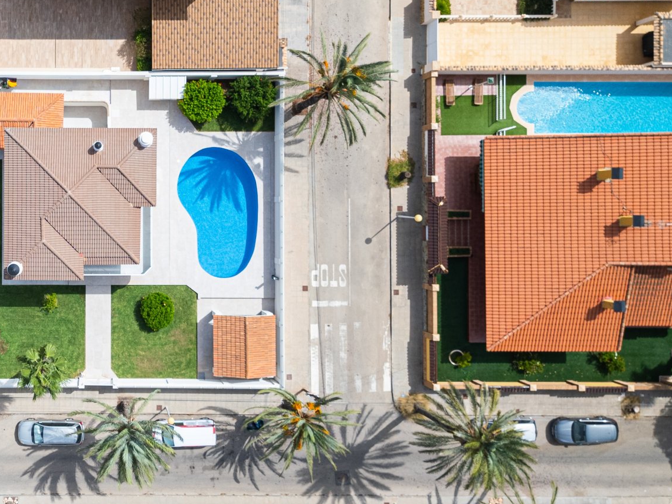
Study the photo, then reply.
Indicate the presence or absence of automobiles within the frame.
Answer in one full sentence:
Yes, I can see an automobile in this picture.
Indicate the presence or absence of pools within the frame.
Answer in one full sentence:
Yes, the image includes a pool.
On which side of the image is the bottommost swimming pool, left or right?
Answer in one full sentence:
The bottommost swimming pool is on the left side of the image.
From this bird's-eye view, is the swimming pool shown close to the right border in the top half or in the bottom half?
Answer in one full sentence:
The top half of the photo is where the swimming pool shown close to the right border is.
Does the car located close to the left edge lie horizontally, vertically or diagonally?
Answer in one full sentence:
The car located close to the left edge runs horizontally in the image.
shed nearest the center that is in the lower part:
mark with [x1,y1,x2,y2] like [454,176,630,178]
[198,306,277,380]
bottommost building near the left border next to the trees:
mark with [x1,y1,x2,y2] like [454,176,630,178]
[1,125,158,285]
